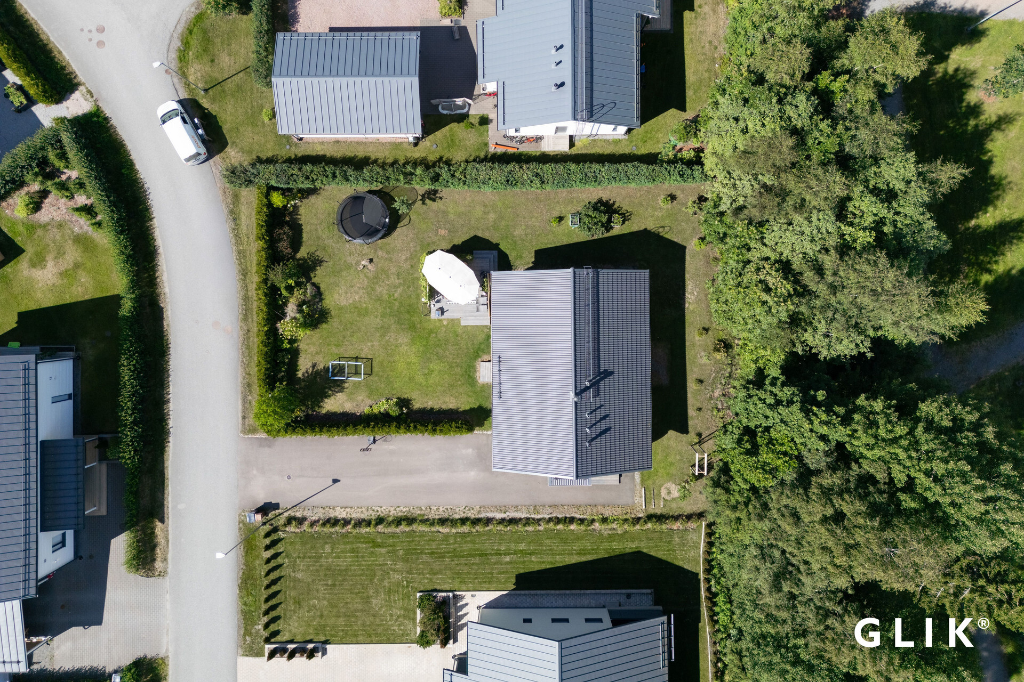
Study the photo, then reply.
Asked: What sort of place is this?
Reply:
residential area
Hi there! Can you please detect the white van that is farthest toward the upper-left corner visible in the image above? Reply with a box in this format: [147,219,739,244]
[156,100,210,170]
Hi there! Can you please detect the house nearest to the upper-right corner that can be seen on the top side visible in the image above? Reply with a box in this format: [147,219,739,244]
[476,0,661,141]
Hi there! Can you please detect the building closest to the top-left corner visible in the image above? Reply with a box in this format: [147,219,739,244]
[270,30,424,145]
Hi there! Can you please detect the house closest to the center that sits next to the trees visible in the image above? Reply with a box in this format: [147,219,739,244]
[488,265,652,486]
